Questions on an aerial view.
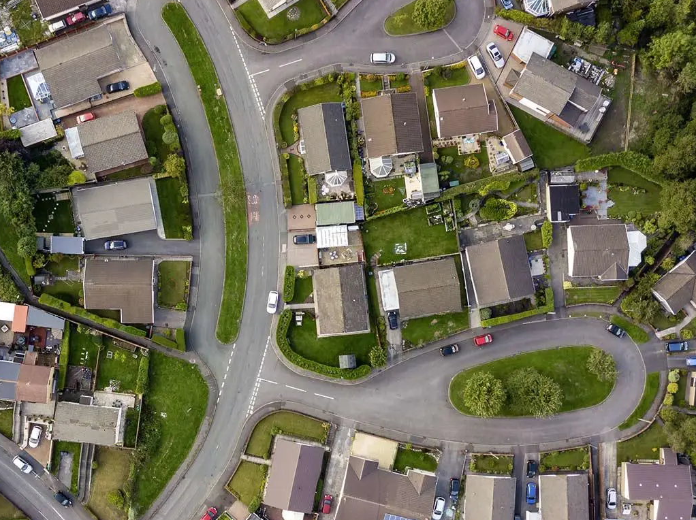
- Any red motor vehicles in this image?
Yes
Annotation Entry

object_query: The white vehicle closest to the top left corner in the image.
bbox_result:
[47,18,66,34]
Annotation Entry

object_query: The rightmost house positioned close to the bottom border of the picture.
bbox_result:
[619,447,696,520]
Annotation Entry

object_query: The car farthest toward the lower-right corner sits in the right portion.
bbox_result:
[606,486,619,509]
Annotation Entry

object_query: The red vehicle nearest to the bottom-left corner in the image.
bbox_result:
[199,503,219,520]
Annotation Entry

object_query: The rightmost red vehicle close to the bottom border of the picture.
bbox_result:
[320,492,333,514]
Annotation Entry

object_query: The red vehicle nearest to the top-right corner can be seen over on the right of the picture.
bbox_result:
[492,22,514,40]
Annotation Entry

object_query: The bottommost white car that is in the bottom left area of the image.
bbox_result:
[11,453,34,473]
